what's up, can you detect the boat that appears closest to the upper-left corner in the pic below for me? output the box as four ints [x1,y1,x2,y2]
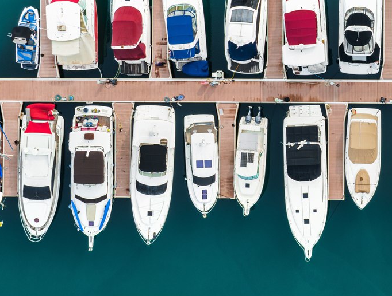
[8,5,41,70]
